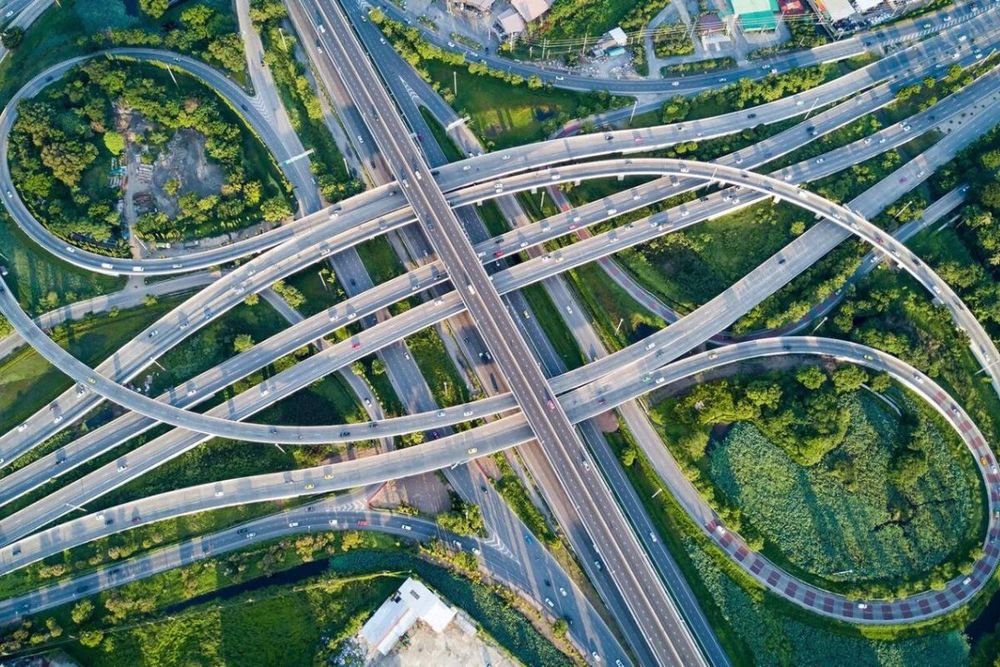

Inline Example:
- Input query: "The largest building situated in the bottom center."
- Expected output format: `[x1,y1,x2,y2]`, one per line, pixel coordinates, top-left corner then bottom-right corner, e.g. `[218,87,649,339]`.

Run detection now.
[359,577,456,655]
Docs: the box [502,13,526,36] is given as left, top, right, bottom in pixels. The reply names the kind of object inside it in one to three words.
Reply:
house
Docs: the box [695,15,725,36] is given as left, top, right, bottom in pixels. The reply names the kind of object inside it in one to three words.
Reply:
house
